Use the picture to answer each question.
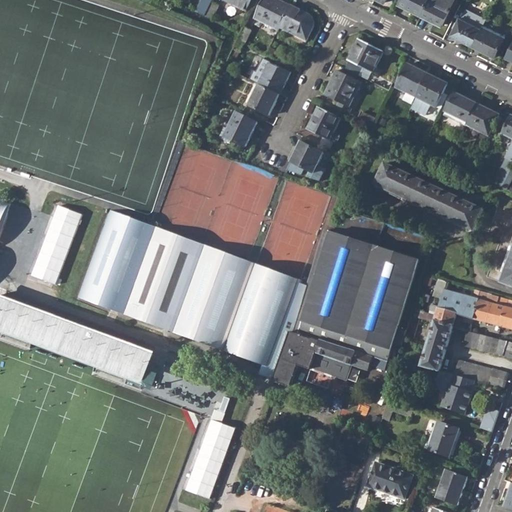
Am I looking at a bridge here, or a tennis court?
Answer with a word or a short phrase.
tennis court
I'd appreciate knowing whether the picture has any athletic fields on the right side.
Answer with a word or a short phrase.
No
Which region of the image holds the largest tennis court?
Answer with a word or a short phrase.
center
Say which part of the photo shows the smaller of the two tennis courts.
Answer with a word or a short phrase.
center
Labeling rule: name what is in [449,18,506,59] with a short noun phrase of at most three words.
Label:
house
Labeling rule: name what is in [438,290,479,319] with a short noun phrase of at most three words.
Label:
building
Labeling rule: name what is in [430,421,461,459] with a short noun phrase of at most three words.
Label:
house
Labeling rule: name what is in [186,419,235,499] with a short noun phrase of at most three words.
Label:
building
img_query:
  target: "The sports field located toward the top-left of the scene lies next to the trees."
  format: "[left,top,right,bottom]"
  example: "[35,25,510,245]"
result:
[0,0,206,216]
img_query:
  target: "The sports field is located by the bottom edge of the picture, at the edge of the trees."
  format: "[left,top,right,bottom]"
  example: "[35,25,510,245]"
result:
[0,341,198,512]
